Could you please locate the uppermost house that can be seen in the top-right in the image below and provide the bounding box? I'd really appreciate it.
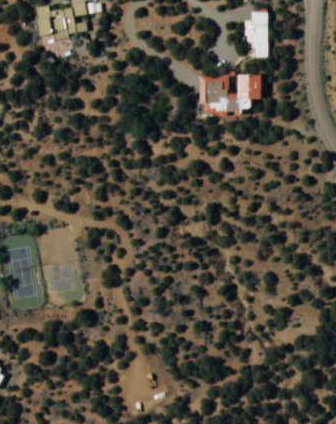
[244,9,268,58]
